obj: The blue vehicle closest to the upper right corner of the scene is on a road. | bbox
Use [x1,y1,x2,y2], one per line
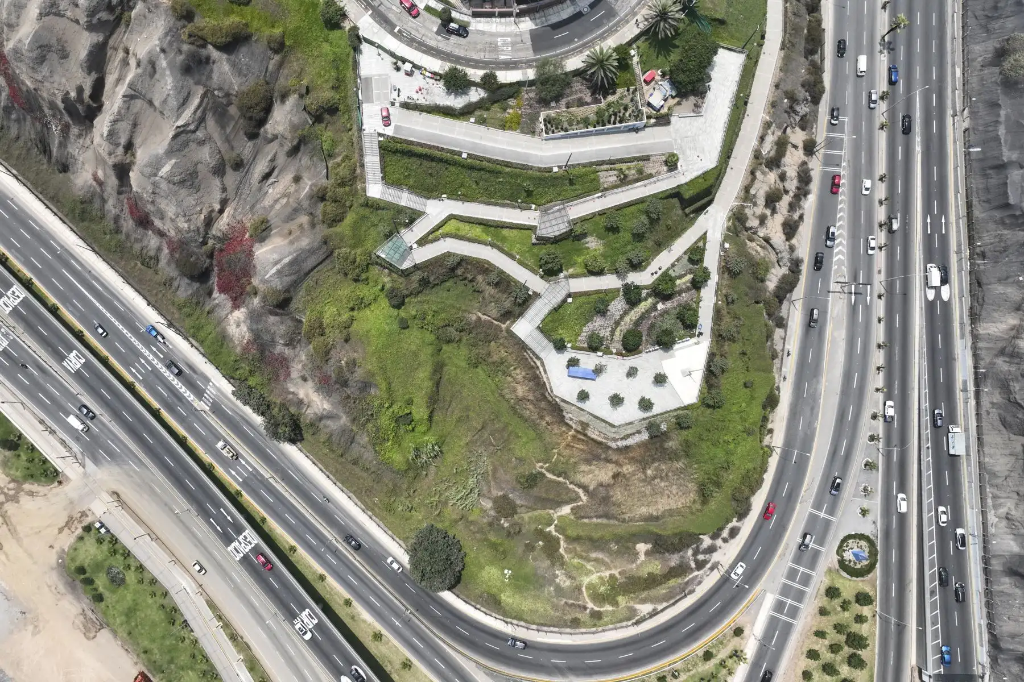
[887,64,899,85]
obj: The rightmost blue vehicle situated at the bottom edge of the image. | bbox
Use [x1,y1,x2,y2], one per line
[940,644,952,666]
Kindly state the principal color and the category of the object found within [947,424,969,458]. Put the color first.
white truck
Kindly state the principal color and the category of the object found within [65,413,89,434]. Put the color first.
white vehicle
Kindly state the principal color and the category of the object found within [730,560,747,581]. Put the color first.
white car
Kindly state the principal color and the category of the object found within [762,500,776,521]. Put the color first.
red car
